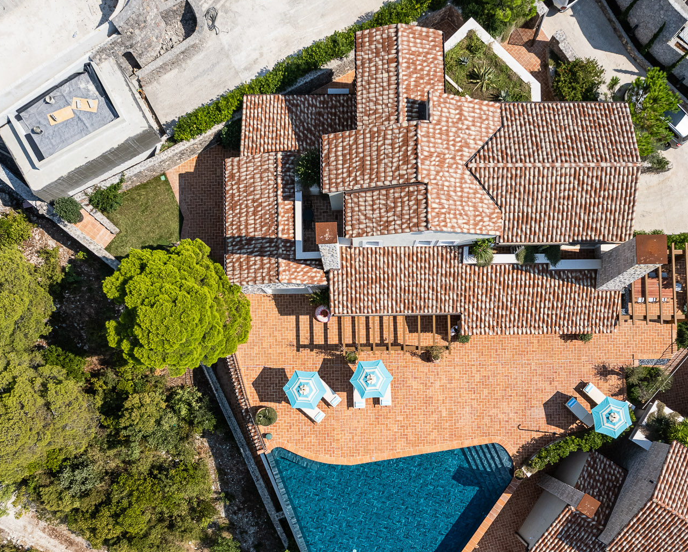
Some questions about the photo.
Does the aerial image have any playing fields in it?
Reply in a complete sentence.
No, I can't see a single playing field in this photo.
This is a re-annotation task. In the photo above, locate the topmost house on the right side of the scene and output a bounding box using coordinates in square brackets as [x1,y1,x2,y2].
[223,20,668,336]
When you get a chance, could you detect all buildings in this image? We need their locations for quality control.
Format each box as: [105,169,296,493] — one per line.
[223,20,668,336]
[522,441,688,552]
[0,58,171,201]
